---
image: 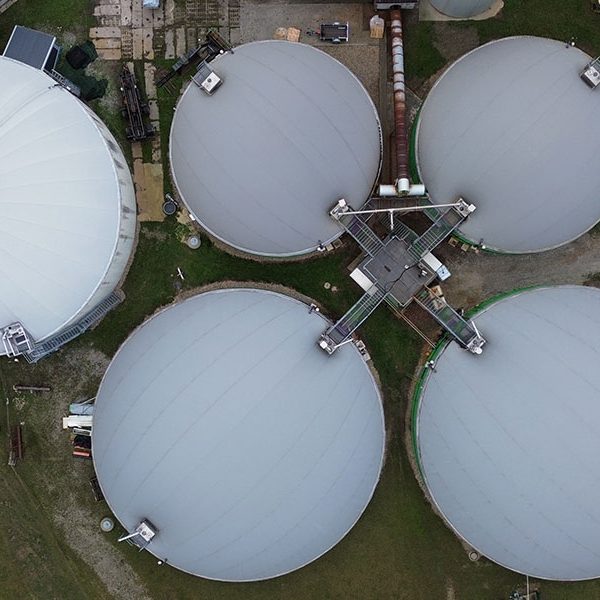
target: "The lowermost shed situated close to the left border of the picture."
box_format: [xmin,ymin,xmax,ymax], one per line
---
[2,25,66,79]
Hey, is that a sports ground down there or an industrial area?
industrial area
